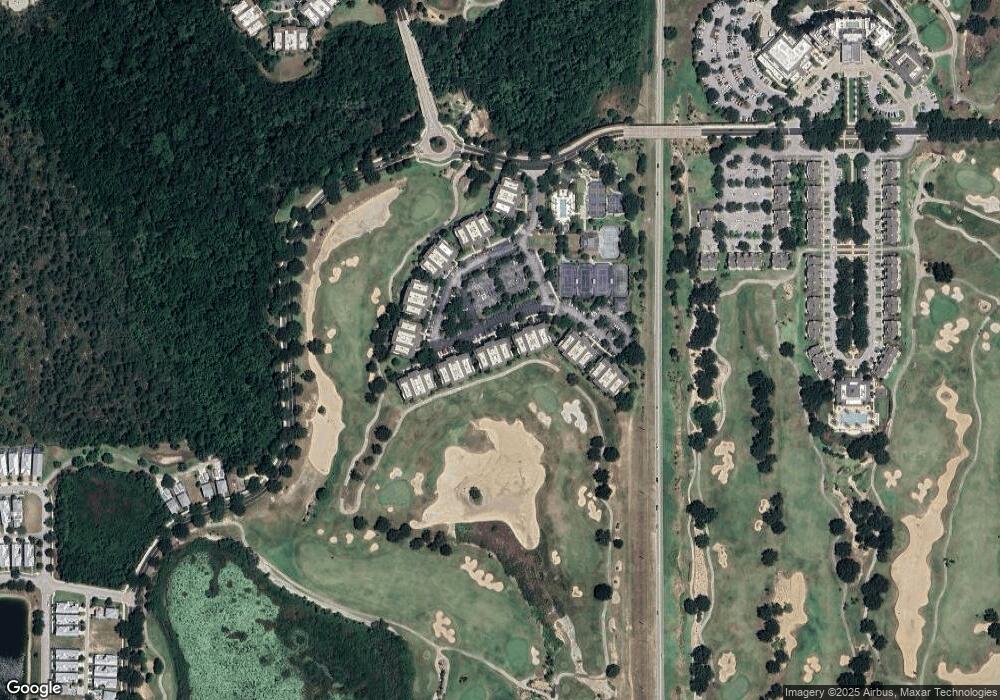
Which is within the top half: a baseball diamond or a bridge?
bridge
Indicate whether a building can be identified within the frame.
Yes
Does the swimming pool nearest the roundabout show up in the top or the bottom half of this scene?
top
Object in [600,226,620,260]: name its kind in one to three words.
sports court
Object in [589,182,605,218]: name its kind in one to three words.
tennis court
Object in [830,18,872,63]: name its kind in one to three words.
building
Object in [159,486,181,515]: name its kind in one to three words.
house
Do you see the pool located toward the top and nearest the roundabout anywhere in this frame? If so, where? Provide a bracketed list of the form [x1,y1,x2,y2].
[552,189,575,226]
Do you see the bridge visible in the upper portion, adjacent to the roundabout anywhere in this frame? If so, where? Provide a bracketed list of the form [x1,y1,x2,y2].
[398,20,438,122]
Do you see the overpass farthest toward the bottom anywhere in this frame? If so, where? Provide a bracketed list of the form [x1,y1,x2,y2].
[622,125,703,140]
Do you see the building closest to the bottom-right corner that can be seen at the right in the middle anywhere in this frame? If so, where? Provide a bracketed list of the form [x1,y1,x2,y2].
[834,377,875,425]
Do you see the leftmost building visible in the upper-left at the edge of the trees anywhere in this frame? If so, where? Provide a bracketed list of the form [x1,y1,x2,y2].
[229,0,267,35]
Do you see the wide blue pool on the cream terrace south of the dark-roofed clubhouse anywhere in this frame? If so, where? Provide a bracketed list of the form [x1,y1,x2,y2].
[828,405,879,435]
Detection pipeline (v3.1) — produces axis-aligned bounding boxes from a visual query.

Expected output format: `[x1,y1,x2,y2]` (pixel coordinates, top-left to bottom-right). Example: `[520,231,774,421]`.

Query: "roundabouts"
[421,128,456,161]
